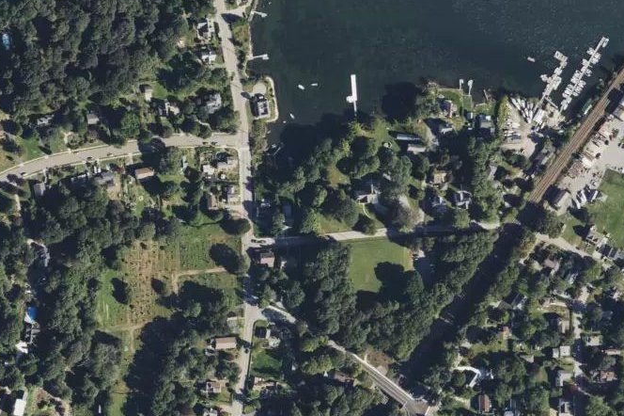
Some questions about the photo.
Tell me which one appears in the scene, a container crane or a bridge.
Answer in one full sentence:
Visible in the photo is a bridge.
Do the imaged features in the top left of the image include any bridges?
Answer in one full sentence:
No, no bridge appears in the top left of the image.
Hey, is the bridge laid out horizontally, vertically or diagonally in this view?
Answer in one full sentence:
Seen from above, the bridge lies diagonally.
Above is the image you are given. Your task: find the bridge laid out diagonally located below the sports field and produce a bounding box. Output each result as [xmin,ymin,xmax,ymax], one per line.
[369,366,419,406]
